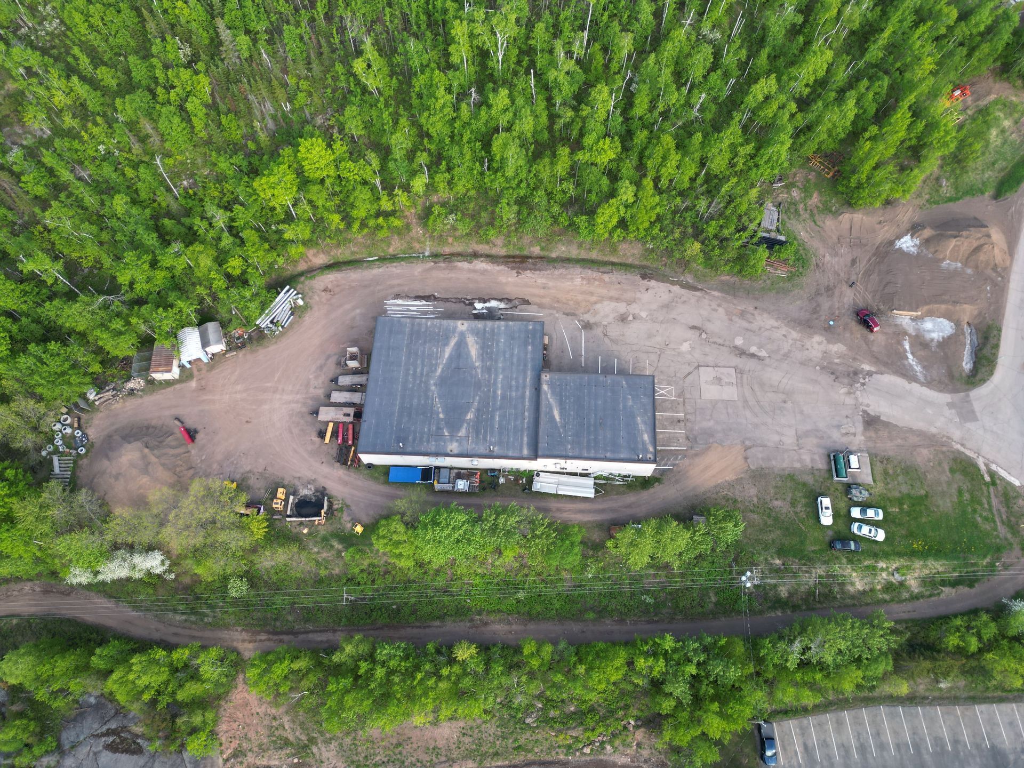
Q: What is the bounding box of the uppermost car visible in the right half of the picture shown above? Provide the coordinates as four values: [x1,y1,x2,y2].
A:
[855,308,881,334]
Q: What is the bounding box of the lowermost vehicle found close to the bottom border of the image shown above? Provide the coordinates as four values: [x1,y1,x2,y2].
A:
[758,723,781,764]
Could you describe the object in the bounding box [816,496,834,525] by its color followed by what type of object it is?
white car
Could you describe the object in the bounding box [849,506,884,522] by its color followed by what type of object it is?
white car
